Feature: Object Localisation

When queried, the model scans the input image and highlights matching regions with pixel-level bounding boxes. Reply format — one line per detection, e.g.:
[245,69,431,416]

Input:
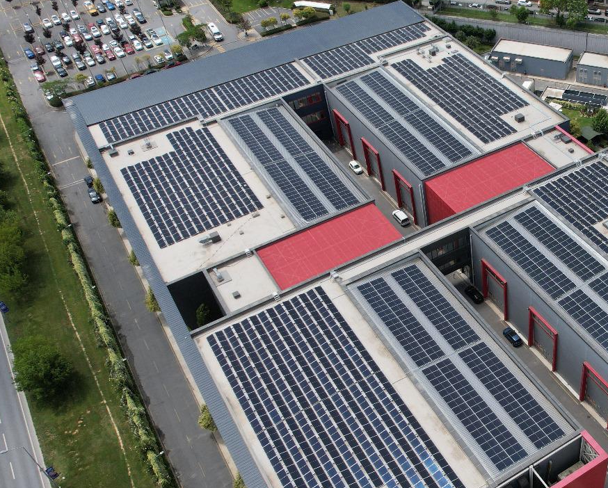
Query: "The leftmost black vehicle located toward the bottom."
[462,284,485,305]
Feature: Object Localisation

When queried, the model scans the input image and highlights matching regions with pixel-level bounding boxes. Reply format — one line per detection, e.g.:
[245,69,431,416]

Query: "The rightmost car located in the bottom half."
[499,325,525,349]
